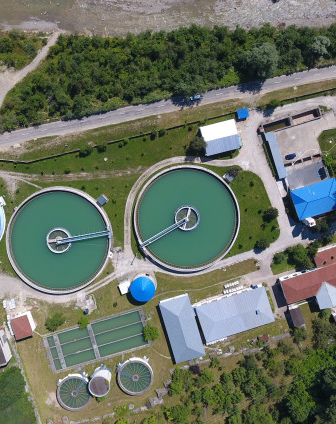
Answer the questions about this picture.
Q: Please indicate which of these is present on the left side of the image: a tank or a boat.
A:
tank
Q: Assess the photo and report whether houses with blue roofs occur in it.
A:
Yes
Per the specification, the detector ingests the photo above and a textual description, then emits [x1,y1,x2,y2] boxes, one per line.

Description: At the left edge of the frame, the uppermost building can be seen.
[11,314,35,340]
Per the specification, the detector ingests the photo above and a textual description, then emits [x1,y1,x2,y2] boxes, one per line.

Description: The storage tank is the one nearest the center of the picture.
[134,165,241,272]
